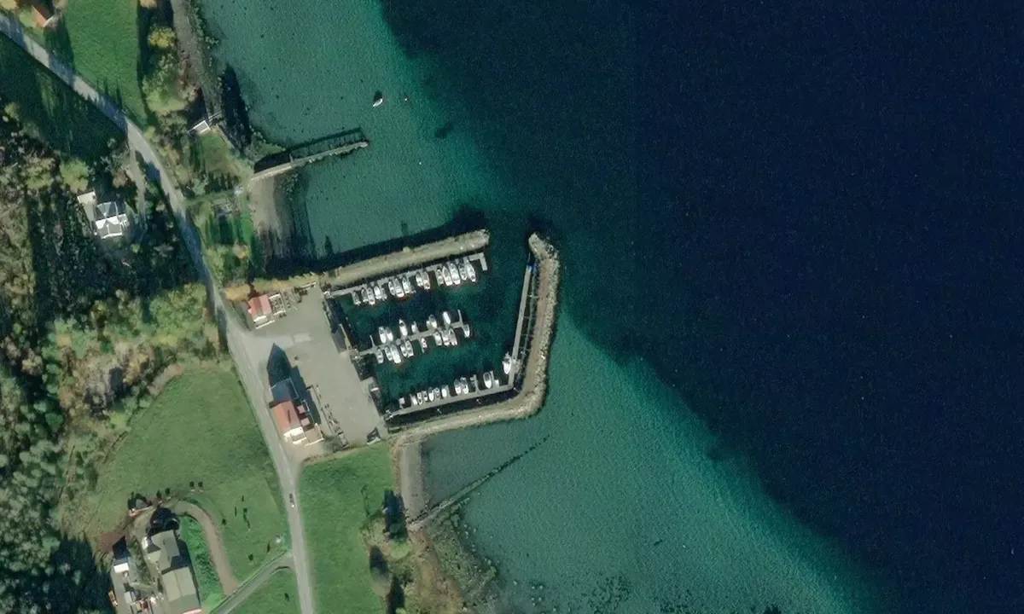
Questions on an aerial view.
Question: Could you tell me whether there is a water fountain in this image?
No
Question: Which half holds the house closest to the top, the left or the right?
left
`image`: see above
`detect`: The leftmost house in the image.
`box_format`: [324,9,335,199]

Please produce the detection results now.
[24,0,54,30]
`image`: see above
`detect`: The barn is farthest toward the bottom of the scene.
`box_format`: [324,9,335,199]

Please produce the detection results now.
[163,568,199,614]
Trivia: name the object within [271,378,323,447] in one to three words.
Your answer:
building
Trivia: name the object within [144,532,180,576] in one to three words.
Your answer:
barn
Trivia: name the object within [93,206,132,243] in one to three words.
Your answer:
house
